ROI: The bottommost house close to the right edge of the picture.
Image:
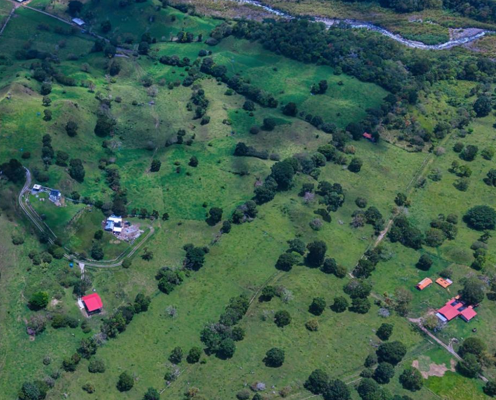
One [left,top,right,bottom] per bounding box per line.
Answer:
[435,294,480,327]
